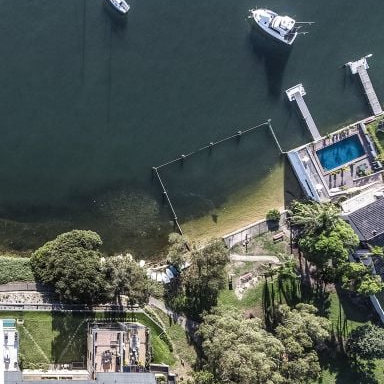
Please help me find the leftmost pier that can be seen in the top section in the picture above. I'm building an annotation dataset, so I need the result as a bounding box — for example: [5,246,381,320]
[285,81,323,140]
